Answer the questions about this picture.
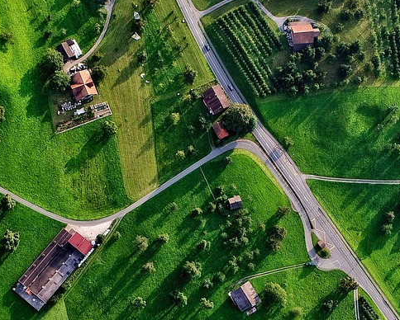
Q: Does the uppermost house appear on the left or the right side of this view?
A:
right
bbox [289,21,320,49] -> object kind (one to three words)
house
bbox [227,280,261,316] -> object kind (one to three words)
barn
